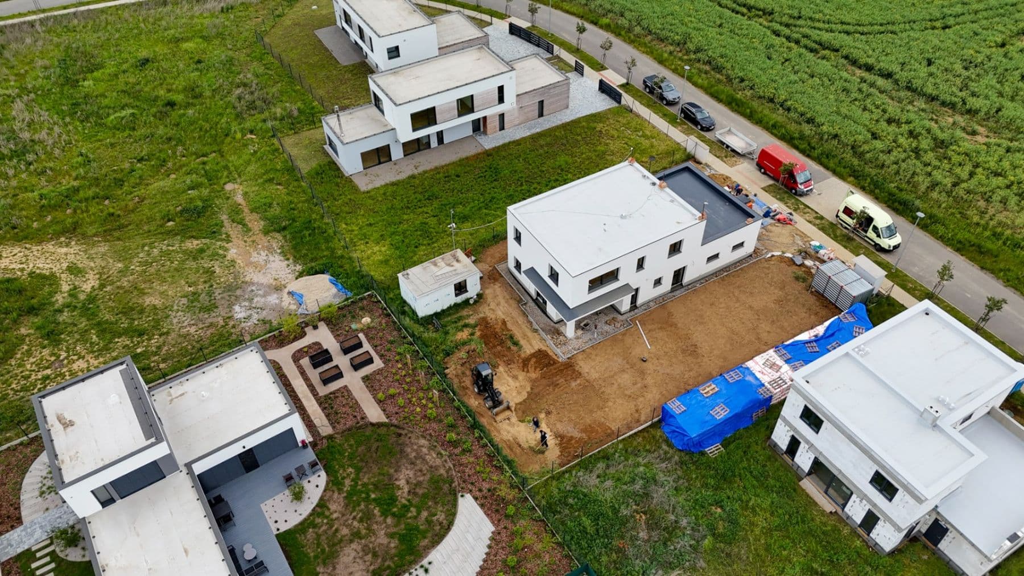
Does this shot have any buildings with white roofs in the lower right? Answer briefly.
Yes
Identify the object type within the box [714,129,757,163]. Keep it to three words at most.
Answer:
trailer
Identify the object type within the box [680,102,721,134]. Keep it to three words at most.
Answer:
car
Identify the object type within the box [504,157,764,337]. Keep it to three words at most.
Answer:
house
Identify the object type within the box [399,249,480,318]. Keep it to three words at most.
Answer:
building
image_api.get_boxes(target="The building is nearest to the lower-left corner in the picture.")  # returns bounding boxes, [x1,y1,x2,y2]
[33,345,302,576]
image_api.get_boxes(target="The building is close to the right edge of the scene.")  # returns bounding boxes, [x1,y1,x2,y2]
[766,299,1024,576]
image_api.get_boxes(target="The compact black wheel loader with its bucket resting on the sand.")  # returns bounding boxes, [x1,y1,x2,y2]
[469,360,517,427]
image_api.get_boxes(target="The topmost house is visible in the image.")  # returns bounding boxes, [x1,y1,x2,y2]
[328,0,490,72]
